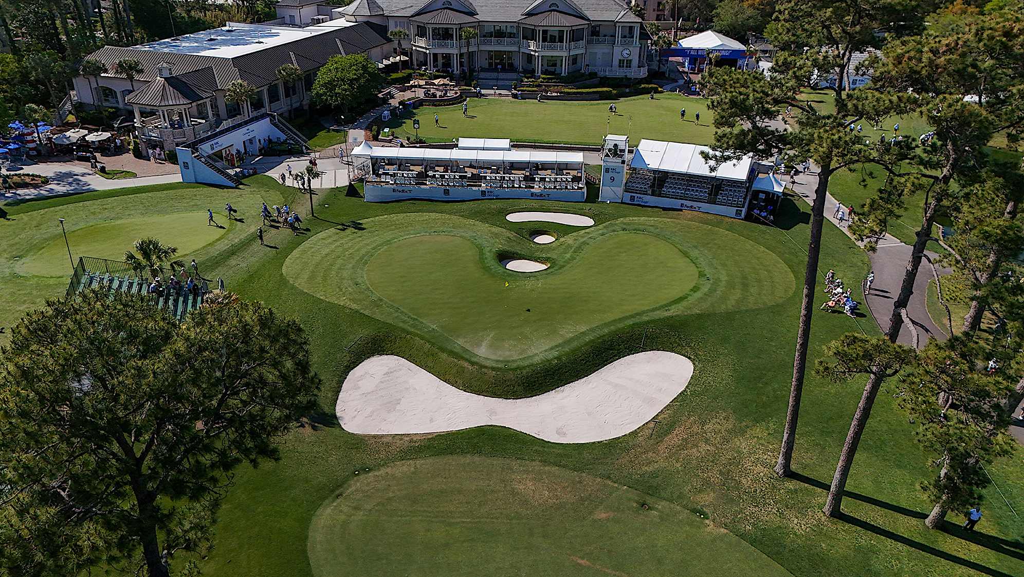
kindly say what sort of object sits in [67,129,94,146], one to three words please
umbrella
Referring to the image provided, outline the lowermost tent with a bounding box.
[748,175,787,222]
